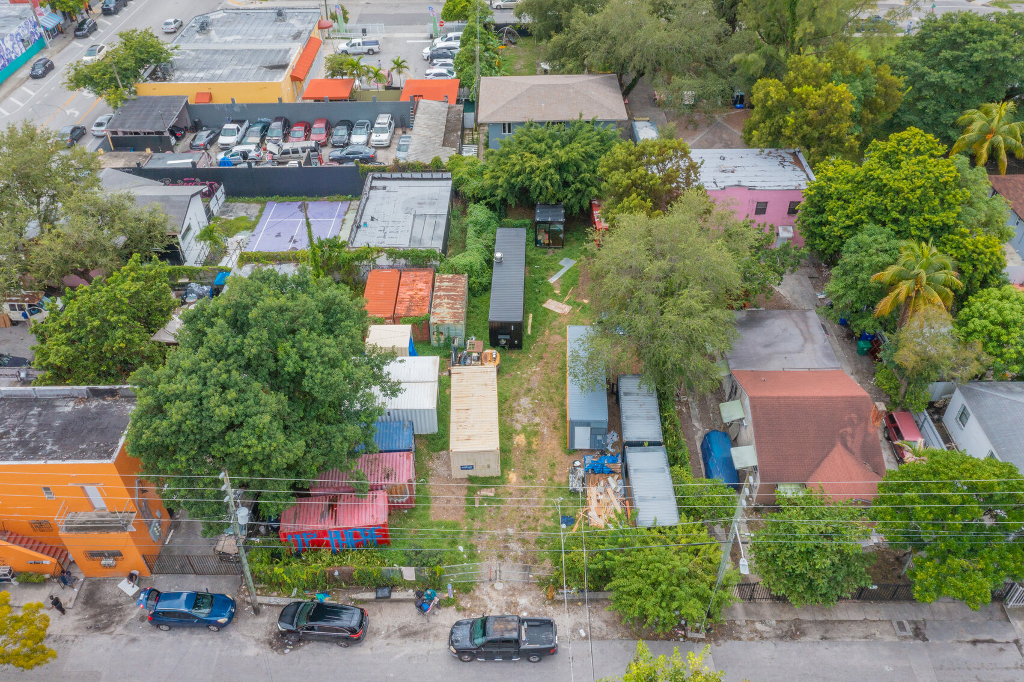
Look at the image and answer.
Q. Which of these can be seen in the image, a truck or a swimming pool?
truck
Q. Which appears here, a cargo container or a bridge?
cargo container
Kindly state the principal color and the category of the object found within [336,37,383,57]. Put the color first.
white vehicle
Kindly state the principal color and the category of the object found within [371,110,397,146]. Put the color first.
white car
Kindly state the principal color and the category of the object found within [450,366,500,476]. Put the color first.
white shipping container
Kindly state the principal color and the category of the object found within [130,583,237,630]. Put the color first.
blue car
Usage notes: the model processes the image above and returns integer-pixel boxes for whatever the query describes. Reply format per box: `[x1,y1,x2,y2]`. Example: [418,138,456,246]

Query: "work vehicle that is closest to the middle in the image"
[436,332,498,378]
